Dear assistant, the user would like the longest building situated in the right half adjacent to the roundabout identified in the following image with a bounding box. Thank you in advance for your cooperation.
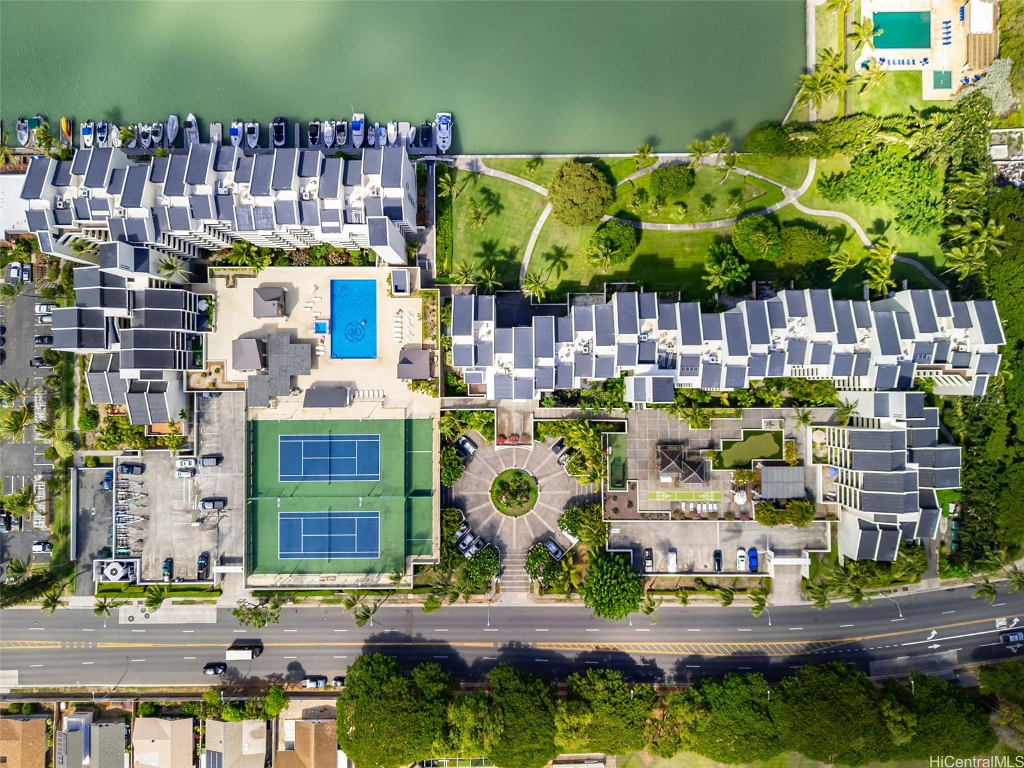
[450,288,1008,410]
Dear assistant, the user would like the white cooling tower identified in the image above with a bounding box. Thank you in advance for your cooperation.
[101,556,132,585]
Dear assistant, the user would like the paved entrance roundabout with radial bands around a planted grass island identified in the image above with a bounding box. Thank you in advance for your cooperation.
[451,432,580,559]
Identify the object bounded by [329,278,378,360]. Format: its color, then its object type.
blue swimming pool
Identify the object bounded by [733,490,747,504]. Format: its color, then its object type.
white umbrella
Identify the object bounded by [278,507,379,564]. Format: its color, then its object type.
blue tennis court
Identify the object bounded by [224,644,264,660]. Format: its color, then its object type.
white vehicle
